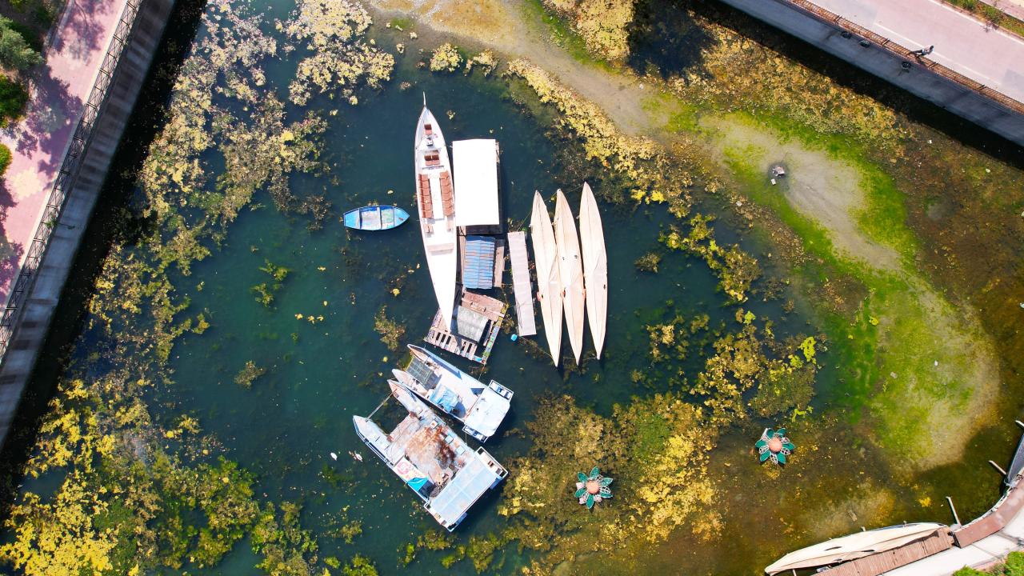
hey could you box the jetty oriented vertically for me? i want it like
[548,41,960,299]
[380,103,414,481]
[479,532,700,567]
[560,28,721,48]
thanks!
[507,232,537,335]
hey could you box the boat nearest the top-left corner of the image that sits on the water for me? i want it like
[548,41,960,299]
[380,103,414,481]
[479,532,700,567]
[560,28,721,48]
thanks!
[344,206,411,230]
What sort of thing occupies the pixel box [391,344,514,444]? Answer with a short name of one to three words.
boat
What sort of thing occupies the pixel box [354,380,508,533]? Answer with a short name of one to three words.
boat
